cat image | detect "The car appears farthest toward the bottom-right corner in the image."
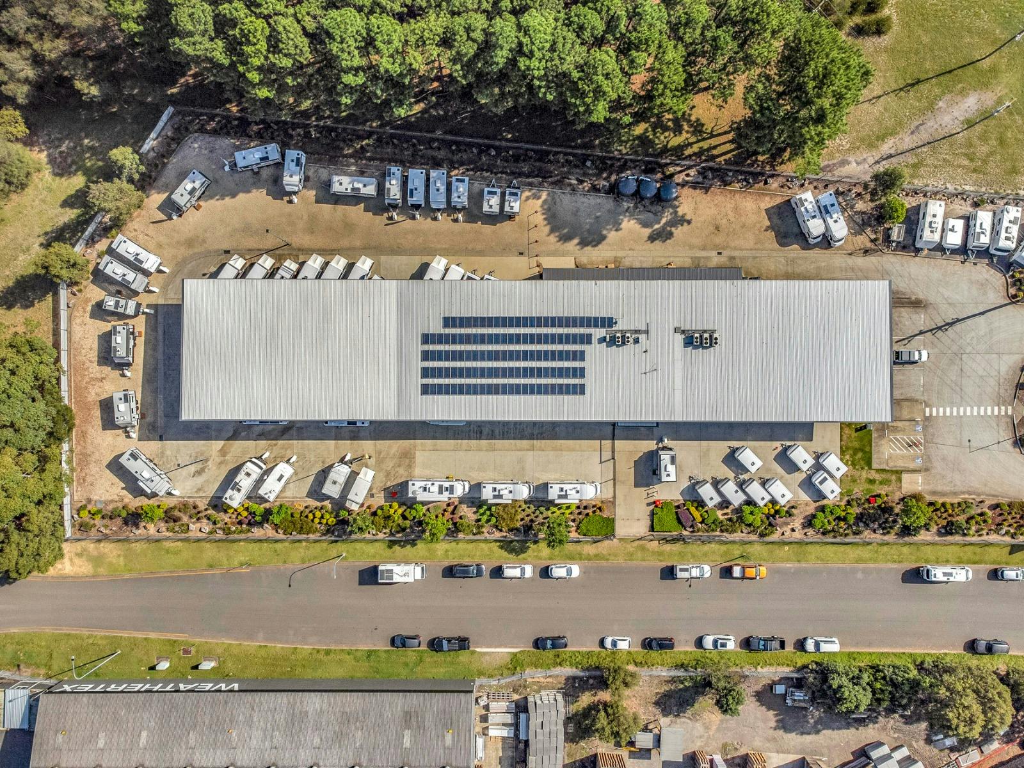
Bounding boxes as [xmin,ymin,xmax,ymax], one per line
[974,638,1010,654]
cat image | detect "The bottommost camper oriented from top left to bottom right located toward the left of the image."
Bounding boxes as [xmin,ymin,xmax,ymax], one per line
[120,445,183,497]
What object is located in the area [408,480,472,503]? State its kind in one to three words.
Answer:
camper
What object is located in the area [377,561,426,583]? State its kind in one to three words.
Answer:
truck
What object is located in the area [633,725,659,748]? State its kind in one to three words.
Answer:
shed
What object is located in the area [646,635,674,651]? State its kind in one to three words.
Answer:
car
